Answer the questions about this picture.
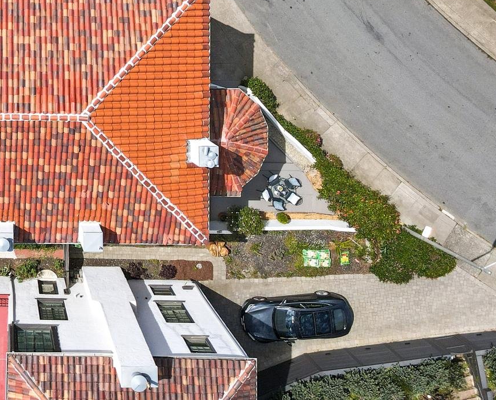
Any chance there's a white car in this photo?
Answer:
No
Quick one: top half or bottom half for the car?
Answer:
bottom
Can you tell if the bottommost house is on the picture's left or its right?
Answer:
left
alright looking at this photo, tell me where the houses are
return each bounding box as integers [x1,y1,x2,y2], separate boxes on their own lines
[4,267,261,400]
[0,0,271,253]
